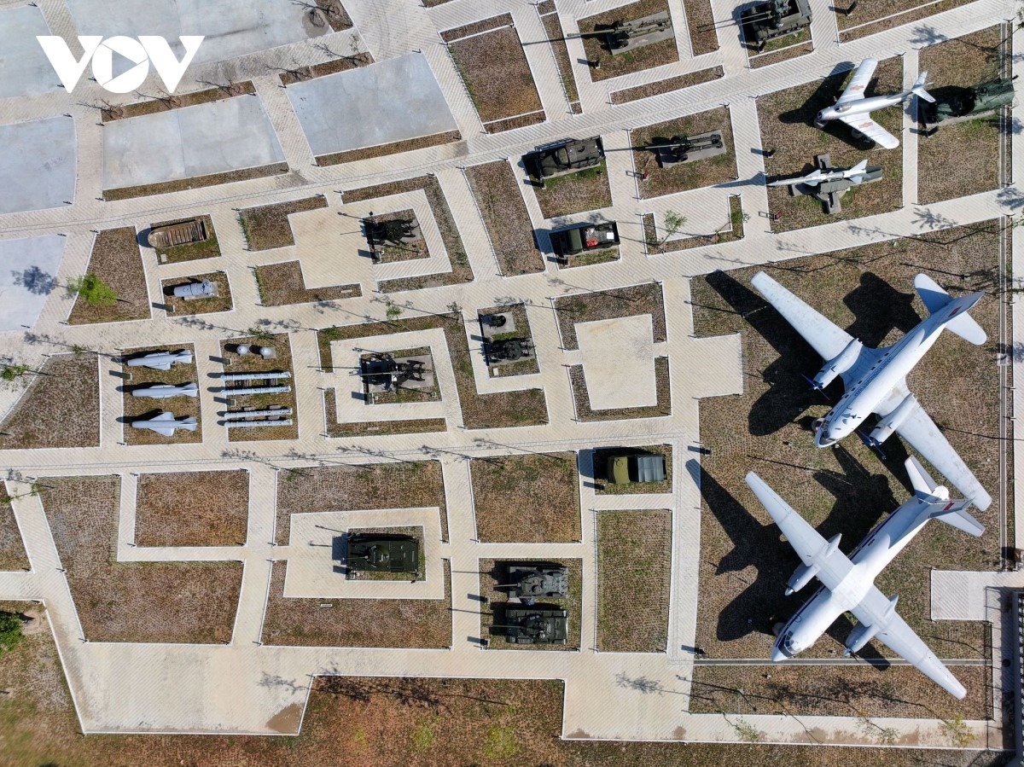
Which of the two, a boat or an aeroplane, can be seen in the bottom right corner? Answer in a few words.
aeroplane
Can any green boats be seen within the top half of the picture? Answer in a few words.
No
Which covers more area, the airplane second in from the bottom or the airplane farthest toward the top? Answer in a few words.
the airplane second in from the bottom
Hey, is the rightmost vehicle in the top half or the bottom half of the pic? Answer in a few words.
top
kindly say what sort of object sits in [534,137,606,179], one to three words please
vehicle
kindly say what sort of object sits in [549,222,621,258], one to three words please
truck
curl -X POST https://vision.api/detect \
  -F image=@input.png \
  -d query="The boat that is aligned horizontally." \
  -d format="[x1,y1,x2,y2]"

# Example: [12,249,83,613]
[148,217,213,245]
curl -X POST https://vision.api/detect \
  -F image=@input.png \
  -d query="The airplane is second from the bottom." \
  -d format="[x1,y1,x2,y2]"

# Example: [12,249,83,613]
[755,271,993,507]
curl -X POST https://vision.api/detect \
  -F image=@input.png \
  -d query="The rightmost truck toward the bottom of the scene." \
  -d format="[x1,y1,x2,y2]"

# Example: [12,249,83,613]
[595,456,664,481]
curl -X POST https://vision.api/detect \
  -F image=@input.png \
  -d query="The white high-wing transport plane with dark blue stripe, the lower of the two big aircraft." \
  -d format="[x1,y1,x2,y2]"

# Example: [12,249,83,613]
[745,457,987,695]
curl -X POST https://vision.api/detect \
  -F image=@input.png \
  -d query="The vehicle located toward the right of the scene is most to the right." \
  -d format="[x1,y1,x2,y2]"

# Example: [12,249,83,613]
[918,70,1023,124]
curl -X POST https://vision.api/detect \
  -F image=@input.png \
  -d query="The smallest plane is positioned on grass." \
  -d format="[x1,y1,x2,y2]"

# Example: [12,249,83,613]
[817,55,938,152]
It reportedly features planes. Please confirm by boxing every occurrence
[745,457,987,695]
[755,271,993,507]
[817,55,938,152]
